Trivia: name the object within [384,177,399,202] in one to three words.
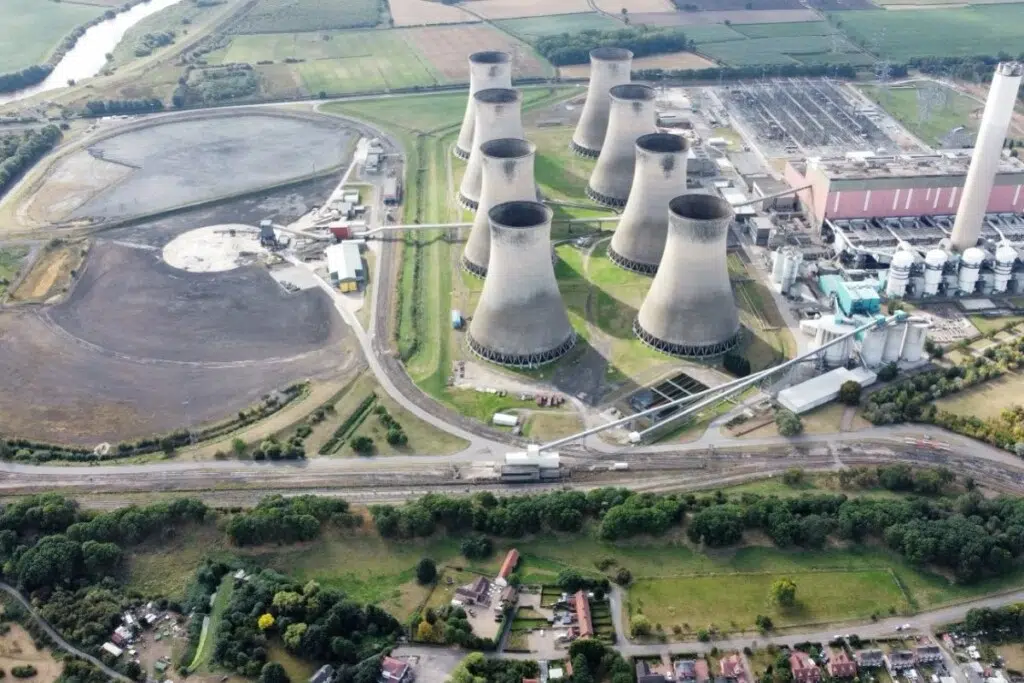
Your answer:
shed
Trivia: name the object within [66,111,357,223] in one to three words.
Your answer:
pond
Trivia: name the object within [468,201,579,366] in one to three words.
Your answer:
cooling tower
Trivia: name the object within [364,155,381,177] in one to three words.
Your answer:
building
